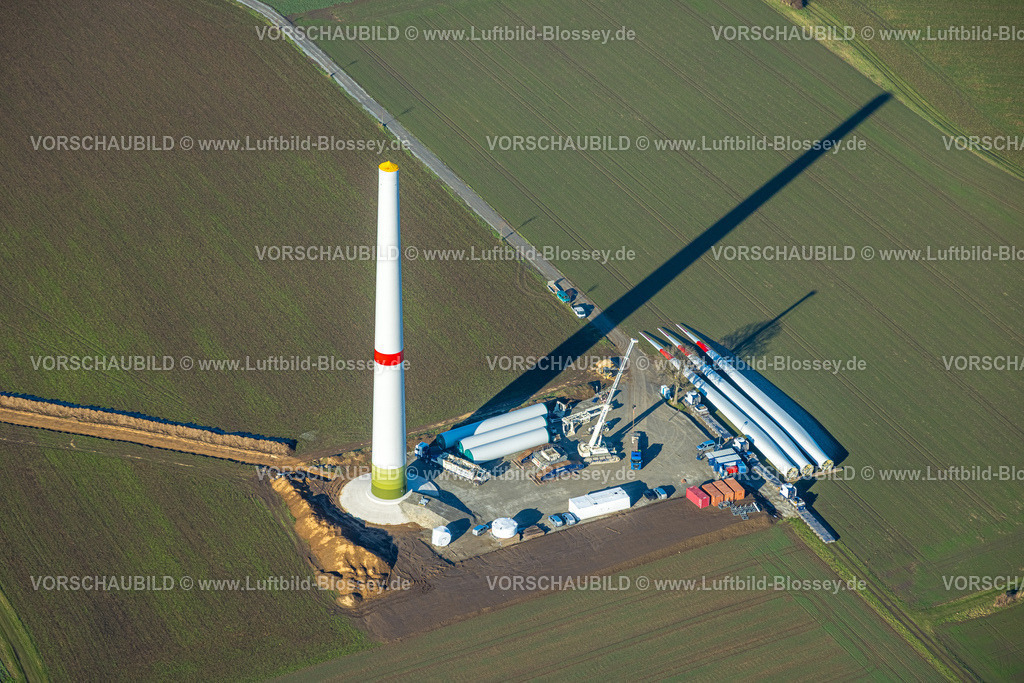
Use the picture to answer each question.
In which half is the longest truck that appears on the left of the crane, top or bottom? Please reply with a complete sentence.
The longest truck that appears on the left of the crane sits in the bottom half of the picture.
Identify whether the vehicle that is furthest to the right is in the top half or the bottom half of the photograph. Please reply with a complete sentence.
The bottom half of the photo is where the vehicle that is furthest to the right is.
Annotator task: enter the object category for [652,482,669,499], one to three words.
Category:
car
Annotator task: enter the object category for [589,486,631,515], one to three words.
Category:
building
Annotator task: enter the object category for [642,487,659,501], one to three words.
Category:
car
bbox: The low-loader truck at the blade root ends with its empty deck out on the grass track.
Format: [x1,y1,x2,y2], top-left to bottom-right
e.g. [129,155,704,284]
[781,485,841,543]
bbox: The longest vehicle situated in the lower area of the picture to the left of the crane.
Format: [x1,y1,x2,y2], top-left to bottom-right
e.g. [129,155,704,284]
[413,442,491,483]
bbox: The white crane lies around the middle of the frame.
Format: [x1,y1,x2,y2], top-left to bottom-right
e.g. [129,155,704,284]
[580,339,640,465]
